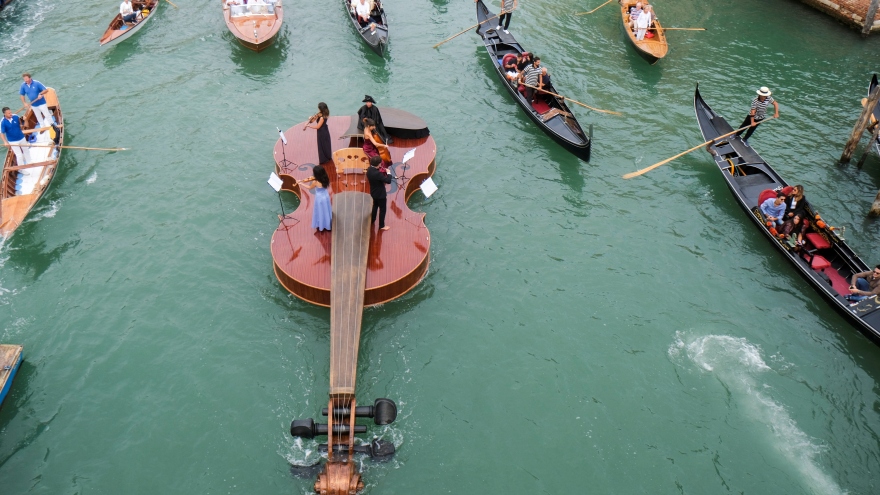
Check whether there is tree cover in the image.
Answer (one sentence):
No, the picture contains no tree cover.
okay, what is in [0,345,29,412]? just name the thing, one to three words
ship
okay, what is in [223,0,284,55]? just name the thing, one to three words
boat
